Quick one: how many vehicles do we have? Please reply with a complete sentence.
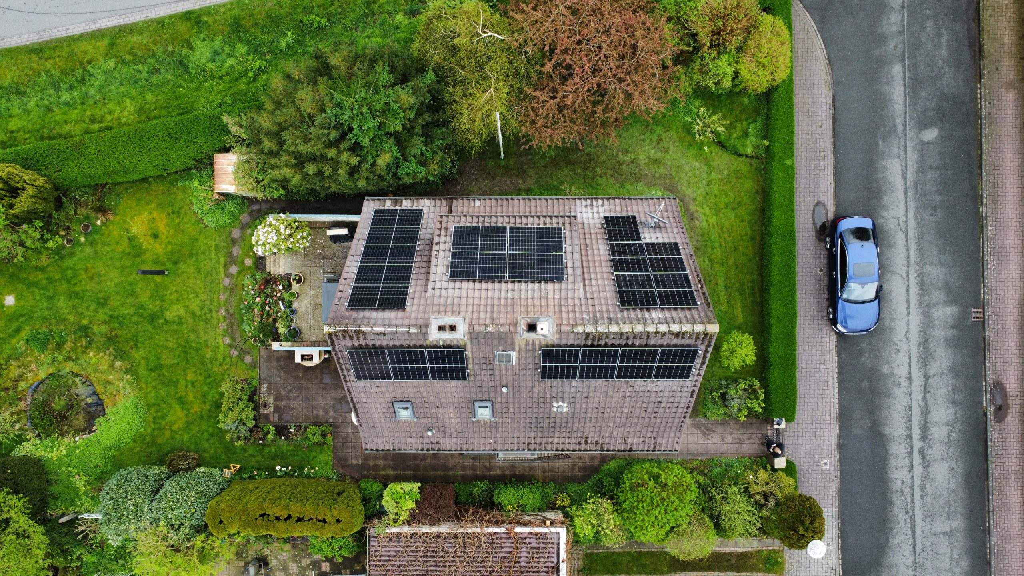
My tally gives 1 vehicle in this photo.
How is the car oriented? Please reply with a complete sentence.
What the image shows is the car lying from top to bottom.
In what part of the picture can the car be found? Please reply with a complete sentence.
You can find the car in the right area of the picture.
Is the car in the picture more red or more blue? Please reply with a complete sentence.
The car looks blue in the image.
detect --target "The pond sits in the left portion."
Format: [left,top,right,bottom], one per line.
[16,365,110,445]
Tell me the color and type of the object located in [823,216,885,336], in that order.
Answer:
blue car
